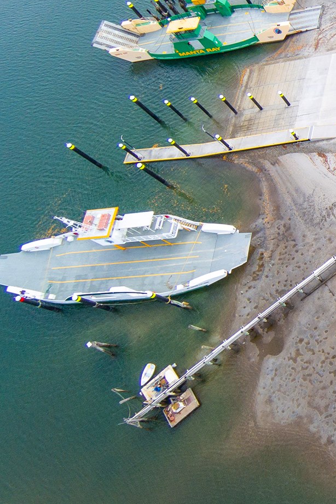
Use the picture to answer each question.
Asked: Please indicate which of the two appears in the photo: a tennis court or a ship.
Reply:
ship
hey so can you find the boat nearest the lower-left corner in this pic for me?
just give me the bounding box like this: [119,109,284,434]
[137,363,153,390]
